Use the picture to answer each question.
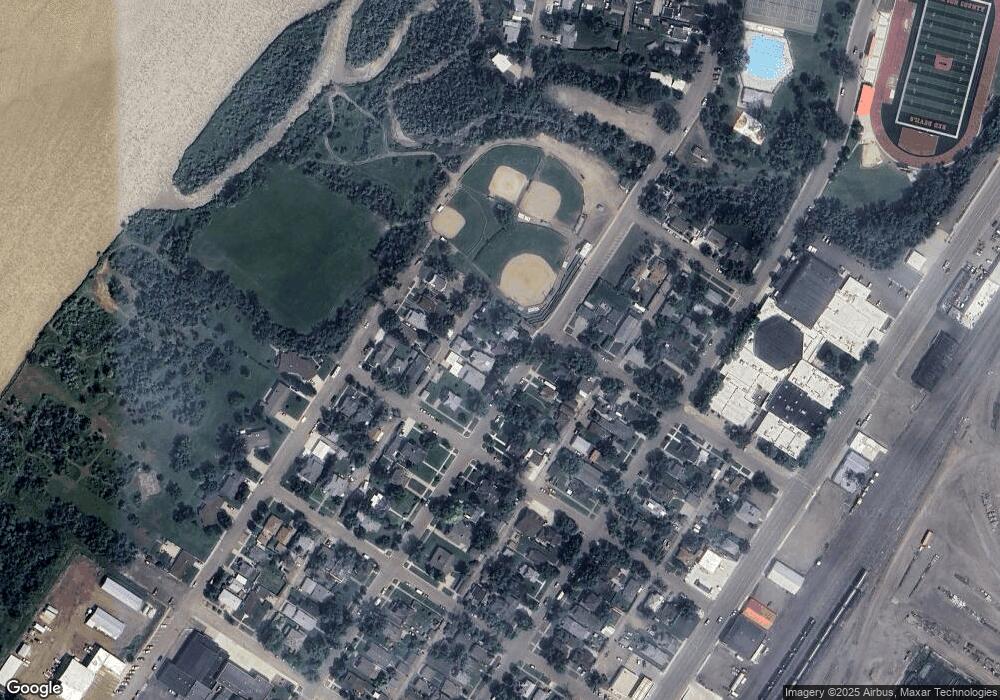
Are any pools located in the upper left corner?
No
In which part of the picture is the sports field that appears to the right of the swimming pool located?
top right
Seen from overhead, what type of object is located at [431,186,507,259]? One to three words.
baseball field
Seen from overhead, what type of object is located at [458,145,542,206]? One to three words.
baseball field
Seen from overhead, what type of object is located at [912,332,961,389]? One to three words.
shed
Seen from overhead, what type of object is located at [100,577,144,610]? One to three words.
building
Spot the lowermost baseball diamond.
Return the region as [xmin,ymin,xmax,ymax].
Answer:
[473,223,569,310]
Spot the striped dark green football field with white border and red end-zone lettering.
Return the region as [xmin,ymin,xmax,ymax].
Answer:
[884,0,997,155]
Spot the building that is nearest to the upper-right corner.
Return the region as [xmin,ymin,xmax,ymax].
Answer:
[857,85,876,114]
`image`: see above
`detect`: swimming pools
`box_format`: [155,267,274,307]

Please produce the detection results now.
[739,27,793,94]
